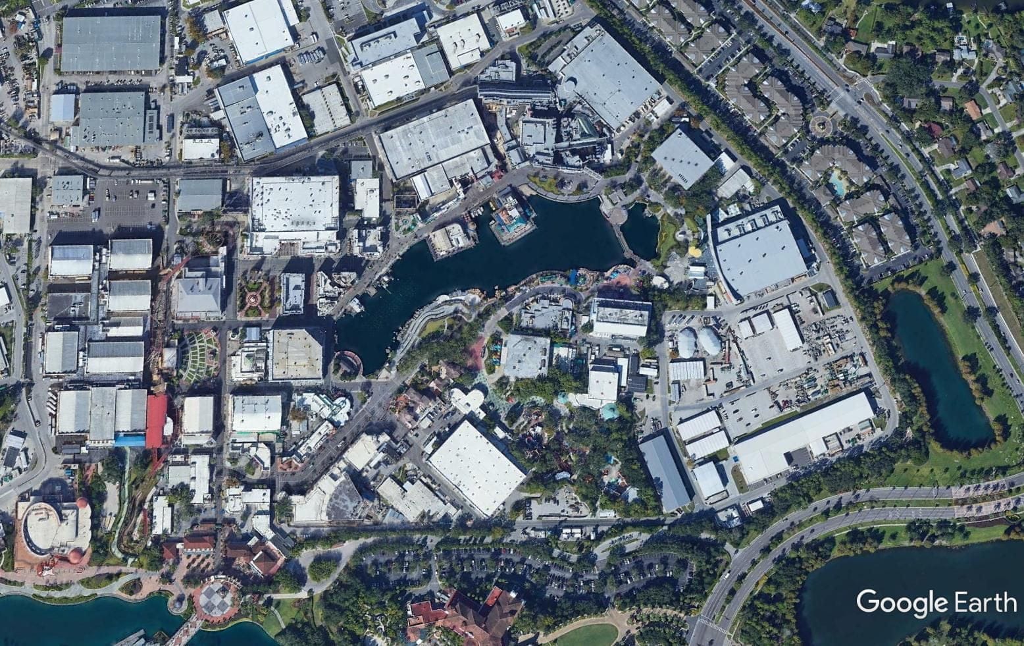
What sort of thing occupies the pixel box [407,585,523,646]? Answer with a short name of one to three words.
building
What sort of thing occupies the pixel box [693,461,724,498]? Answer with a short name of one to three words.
building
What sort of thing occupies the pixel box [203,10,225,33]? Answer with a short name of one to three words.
shed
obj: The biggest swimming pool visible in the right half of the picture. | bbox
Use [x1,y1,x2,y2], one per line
[829,170,858,198]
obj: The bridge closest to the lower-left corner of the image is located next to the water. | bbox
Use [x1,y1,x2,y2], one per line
[159,611,210,646]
